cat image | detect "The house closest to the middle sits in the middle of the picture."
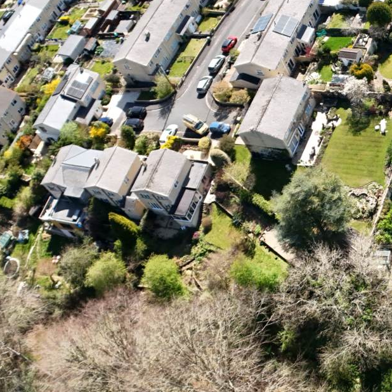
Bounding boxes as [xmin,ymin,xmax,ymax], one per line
[125,148,214,225]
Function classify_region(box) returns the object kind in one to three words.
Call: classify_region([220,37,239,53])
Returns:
car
